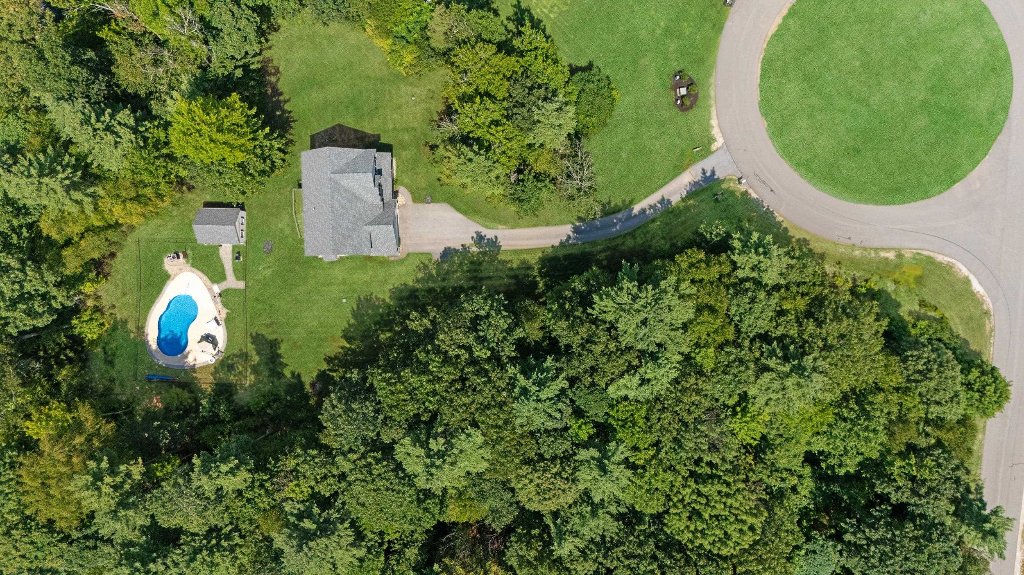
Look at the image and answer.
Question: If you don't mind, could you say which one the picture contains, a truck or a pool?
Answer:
pool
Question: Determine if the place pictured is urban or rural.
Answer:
rural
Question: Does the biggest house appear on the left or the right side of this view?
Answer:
left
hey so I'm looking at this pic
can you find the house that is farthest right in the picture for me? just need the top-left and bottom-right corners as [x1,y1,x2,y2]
[301,147,400,263]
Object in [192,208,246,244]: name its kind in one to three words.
shed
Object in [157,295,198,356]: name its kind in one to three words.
swimming pool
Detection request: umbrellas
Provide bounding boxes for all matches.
[198,338,224,358]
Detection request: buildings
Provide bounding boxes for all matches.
[301,147,400,263]
[192,208,246,244]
